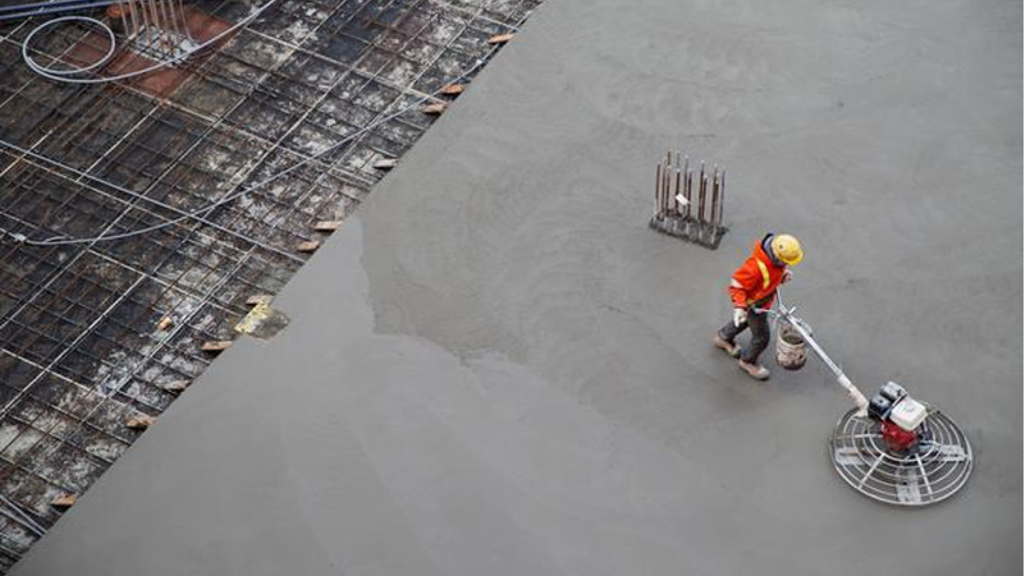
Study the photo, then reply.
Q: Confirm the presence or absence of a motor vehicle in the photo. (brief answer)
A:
No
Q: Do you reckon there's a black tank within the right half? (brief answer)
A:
No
